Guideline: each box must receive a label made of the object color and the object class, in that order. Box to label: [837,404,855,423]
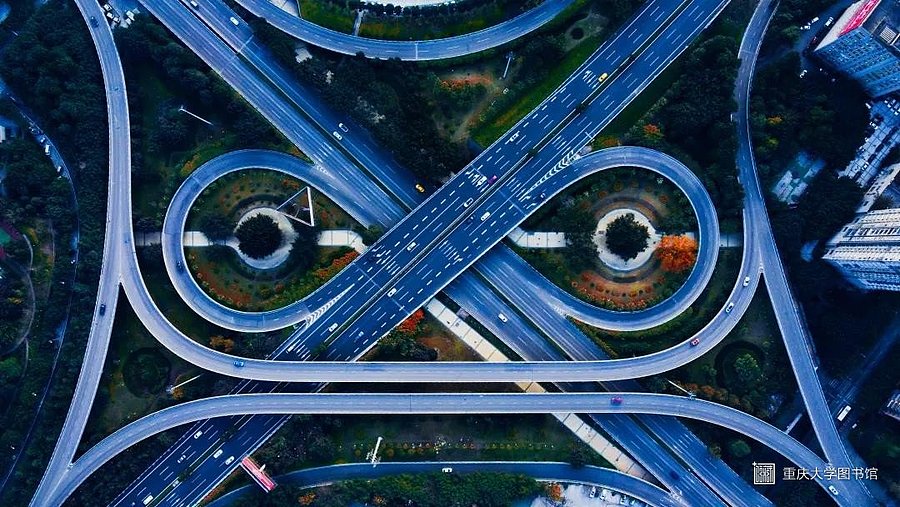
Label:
white vehicle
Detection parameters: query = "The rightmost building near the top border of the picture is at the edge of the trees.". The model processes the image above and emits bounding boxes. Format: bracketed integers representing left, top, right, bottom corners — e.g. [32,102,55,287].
[814,0,900,95]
